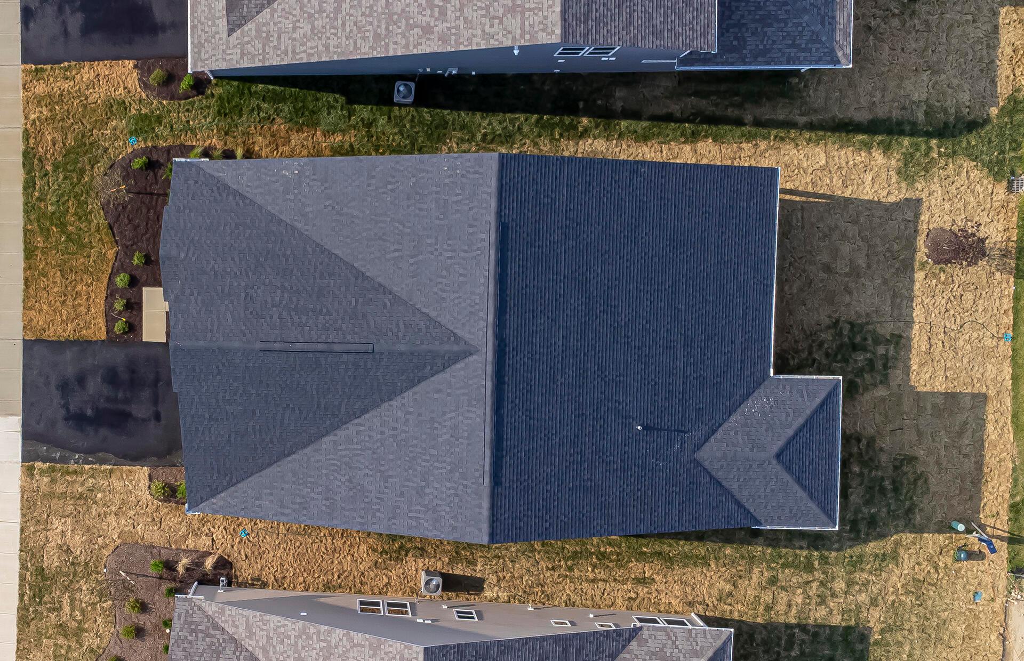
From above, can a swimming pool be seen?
No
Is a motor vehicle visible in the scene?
No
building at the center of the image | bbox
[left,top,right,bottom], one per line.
[160,153,843,544]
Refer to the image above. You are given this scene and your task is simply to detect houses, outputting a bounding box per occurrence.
[168,579,735,661]
[160,153,843,544]
[186,0,854,86]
